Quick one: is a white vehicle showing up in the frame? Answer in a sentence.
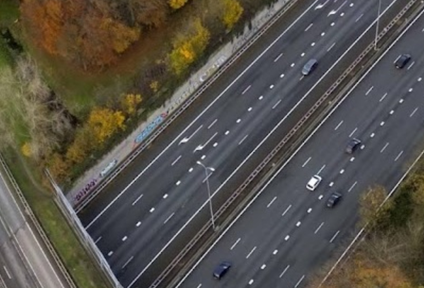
Yes, the frame does contain a white vehicle.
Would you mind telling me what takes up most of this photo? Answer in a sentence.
The largest share of the image is taken up by paved ground.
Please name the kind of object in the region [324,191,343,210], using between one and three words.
car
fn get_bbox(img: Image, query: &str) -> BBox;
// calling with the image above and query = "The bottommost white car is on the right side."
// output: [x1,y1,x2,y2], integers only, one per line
[305,175,323,192]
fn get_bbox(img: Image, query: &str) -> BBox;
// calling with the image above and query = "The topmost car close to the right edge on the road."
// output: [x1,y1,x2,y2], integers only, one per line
[394,55,410,70]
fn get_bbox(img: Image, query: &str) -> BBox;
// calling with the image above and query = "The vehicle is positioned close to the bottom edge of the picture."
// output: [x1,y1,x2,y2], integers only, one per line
[211,260,233,283]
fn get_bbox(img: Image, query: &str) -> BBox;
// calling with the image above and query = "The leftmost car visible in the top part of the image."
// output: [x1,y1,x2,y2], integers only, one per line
[301,57,319,75]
